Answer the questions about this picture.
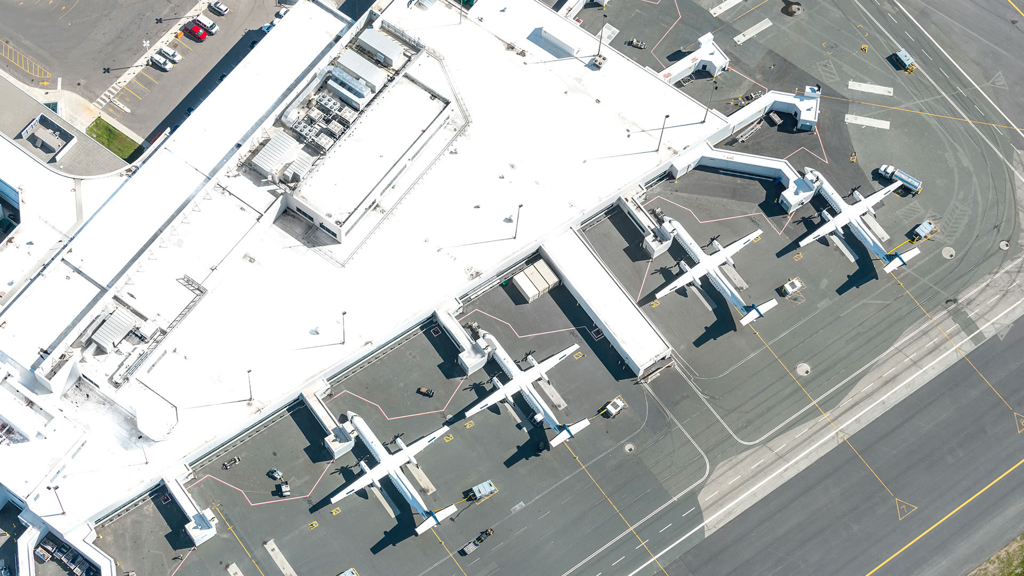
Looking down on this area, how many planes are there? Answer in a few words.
4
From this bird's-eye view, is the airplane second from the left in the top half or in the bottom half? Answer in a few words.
bottom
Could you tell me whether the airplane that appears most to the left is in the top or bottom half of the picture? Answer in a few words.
bottom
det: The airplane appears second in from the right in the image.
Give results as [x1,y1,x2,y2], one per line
[655,216,778,326]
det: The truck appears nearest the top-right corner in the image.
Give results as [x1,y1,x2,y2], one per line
[893,49,917,74]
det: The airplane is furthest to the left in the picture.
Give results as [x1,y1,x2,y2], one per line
[329,411,458,535]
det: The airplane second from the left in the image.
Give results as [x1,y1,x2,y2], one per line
[464,329,590,447]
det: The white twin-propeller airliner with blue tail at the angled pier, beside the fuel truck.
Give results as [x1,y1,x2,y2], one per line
[799,167,920,273]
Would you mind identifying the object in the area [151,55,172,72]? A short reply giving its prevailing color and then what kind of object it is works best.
white car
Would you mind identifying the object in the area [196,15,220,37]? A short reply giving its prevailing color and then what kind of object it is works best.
white car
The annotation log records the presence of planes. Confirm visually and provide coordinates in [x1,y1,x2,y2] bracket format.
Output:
[464,329,590,447]
[655,216,778,326]
[799,167,920,273]
[329,411,458,535]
